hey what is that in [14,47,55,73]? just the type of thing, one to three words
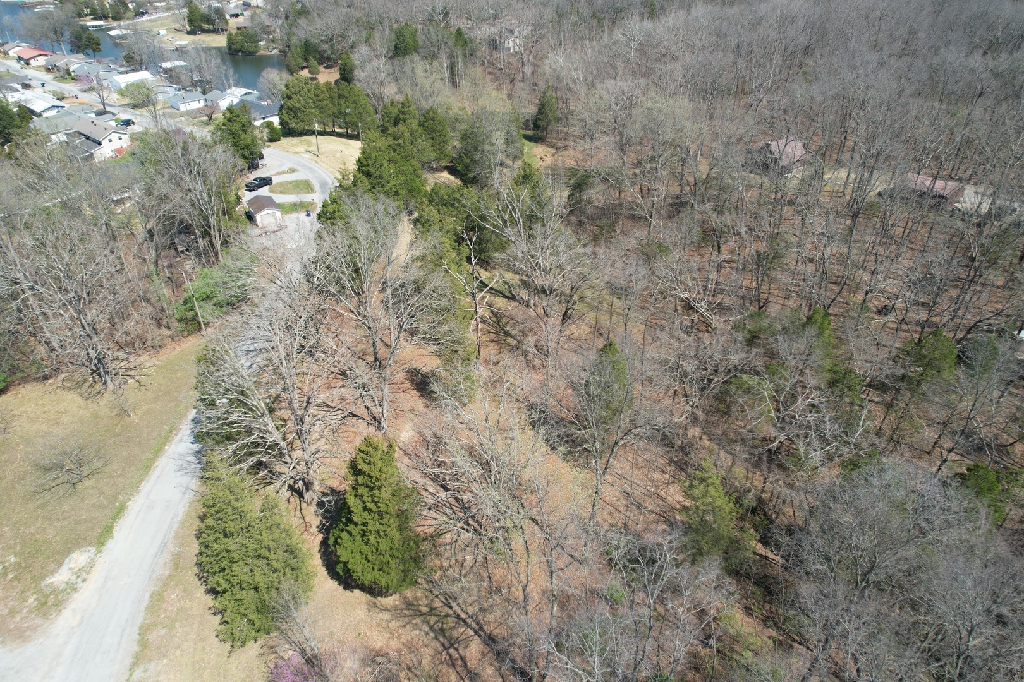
house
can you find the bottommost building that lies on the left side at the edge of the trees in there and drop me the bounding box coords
[247,193,284,232]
